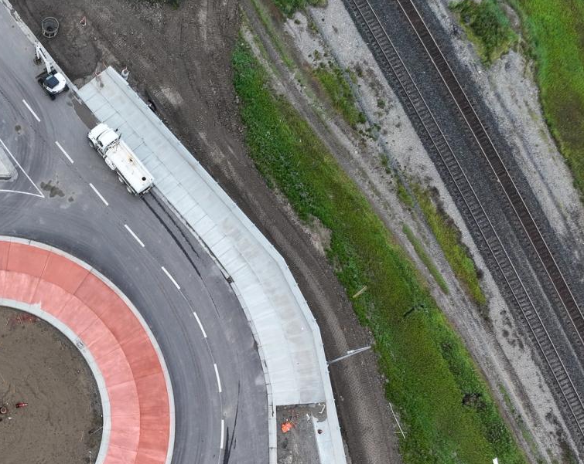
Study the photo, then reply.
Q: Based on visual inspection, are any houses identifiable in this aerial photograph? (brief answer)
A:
No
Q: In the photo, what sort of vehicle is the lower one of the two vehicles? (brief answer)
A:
truck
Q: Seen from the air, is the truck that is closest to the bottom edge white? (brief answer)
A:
Yes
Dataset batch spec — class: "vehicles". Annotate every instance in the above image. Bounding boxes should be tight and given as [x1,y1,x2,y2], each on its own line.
[36,40,70,102]
[87,126,153,200]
